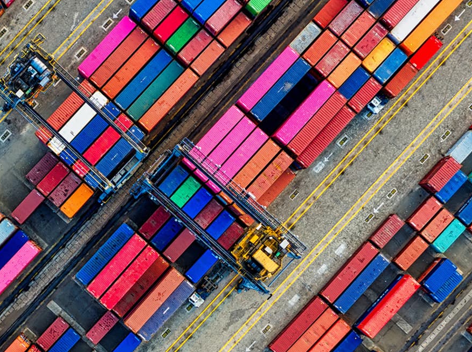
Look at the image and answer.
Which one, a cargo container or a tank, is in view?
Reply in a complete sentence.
Visible in the photo is a cargo container.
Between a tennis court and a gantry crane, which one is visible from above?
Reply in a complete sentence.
It is a gantry crane that can be seen here.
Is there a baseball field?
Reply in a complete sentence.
No, there's no baseball field here.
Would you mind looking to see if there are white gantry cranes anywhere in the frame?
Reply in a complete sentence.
No, I find no white gantry crane anywhere in the image.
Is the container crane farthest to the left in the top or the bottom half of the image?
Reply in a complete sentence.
It is in the top half that the container crane farthest to the left appears.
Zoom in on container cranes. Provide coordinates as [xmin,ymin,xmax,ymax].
[130,136,307,299]
[0,31,160,207]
